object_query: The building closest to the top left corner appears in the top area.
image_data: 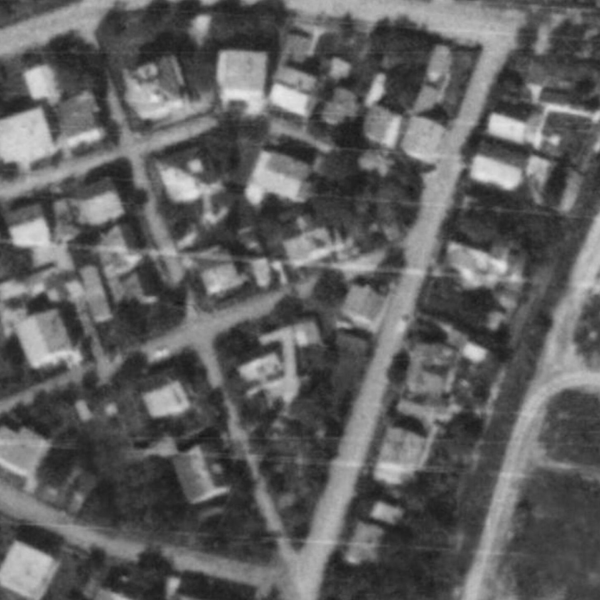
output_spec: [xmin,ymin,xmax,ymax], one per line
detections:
[25,64,59,106]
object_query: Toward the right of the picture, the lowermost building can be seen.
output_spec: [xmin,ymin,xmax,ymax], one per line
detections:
[347,522,383,564]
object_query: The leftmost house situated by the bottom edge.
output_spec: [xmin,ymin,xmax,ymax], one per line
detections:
[0,542,60,600]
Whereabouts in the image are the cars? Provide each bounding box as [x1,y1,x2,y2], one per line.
[154,347,172,359]
[396,320,406,334]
